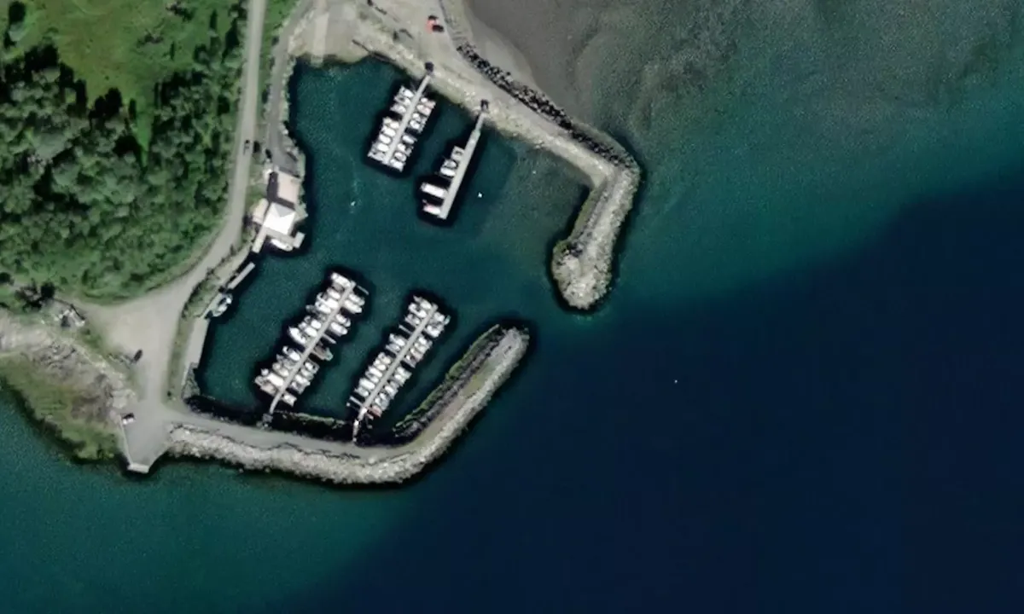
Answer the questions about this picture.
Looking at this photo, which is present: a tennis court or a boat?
boat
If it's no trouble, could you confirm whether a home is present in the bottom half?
No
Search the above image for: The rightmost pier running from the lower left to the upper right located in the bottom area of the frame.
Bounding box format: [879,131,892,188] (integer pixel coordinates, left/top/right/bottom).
[350,298,450,439]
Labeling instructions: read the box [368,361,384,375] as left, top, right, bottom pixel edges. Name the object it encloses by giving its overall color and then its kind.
white boat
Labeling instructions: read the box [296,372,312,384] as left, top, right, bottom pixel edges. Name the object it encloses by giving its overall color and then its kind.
white boat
